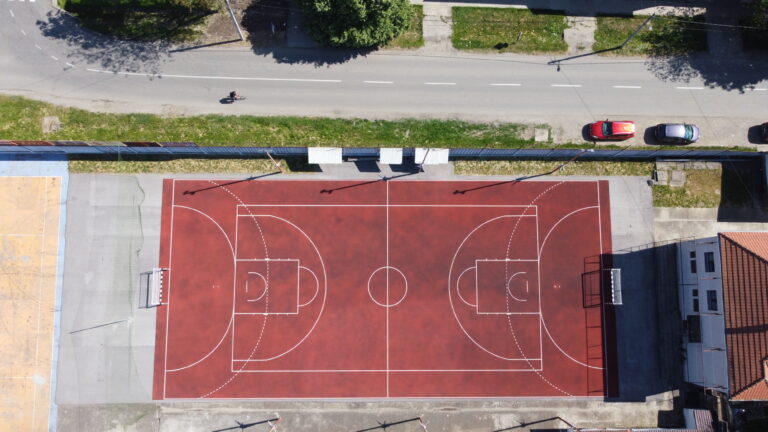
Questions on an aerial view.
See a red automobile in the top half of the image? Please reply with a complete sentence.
Yes, in the top half of the image there is a red automobile.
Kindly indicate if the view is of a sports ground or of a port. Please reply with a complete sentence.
The area seen from above is a sports ground.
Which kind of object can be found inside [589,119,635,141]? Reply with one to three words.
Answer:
car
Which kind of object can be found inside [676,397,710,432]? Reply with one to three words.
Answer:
shed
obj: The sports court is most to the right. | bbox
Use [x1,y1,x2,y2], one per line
[153,178,619,400]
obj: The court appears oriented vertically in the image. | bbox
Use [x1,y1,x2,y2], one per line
[0,154,69,432]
